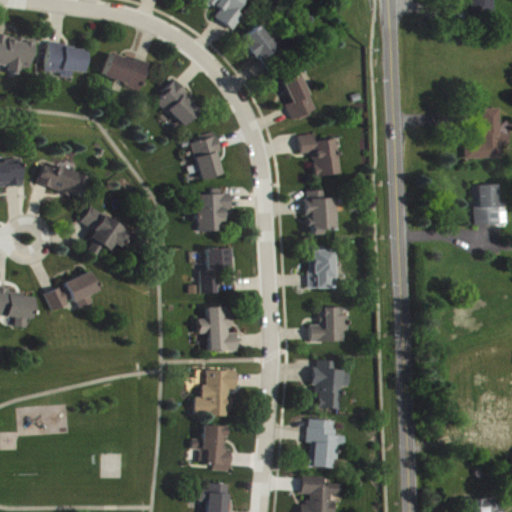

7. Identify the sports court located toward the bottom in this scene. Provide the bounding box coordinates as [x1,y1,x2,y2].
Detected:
[100,452,122,478]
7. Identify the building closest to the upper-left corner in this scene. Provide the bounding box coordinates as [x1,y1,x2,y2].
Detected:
[0,34,40,74]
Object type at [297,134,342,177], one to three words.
house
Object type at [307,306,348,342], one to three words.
house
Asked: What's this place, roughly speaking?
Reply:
residential area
